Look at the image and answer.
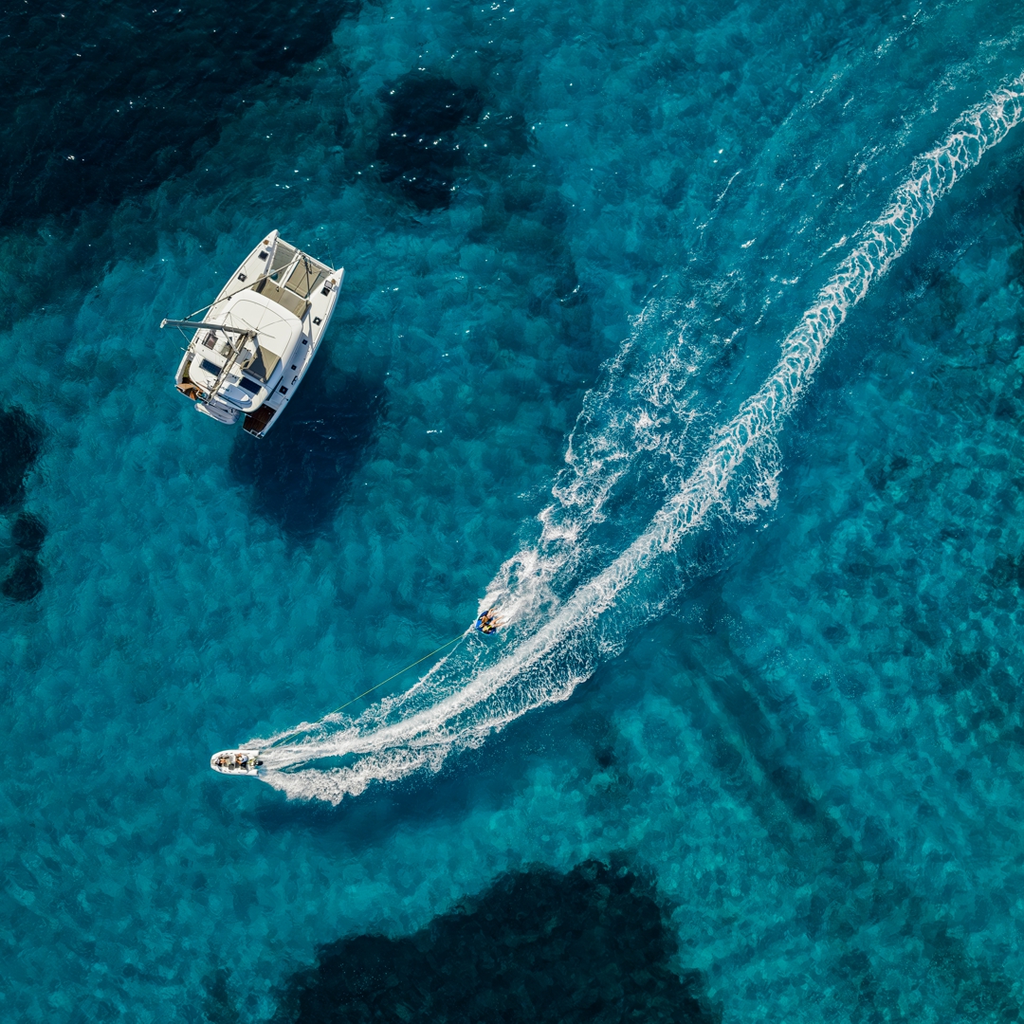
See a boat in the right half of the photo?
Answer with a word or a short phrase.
No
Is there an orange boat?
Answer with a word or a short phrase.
No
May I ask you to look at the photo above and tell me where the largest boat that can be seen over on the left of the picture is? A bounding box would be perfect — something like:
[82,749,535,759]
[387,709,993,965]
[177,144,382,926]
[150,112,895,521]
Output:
[158,227,348,440]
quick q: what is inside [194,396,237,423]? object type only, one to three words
boat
